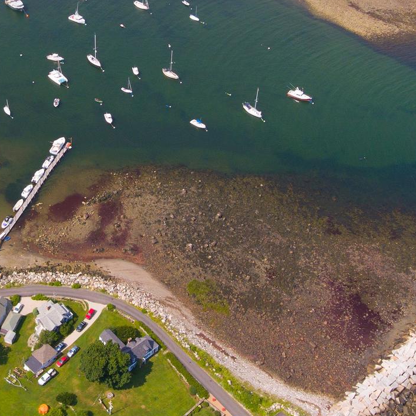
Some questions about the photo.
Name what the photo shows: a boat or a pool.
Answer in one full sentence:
Visible in the photo is a boat.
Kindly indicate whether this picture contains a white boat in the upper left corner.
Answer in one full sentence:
Yes, in the upper left corner there is a white boat.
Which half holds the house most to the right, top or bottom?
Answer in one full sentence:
You can find the house most to the right in the bottom half.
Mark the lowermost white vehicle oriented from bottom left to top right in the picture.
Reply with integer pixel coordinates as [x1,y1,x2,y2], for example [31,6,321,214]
[38,367,58,383]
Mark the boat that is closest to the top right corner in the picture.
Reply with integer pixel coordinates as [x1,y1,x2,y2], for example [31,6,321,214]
[286,80,314,100]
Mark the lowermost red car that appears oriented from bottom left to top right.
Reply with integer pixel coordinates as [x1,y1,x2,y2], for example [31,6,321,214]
[55,353,69,367]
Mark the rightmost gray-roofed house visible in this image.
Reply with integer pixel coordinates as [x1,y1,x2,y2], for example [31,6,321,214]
[98,329,161,374]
